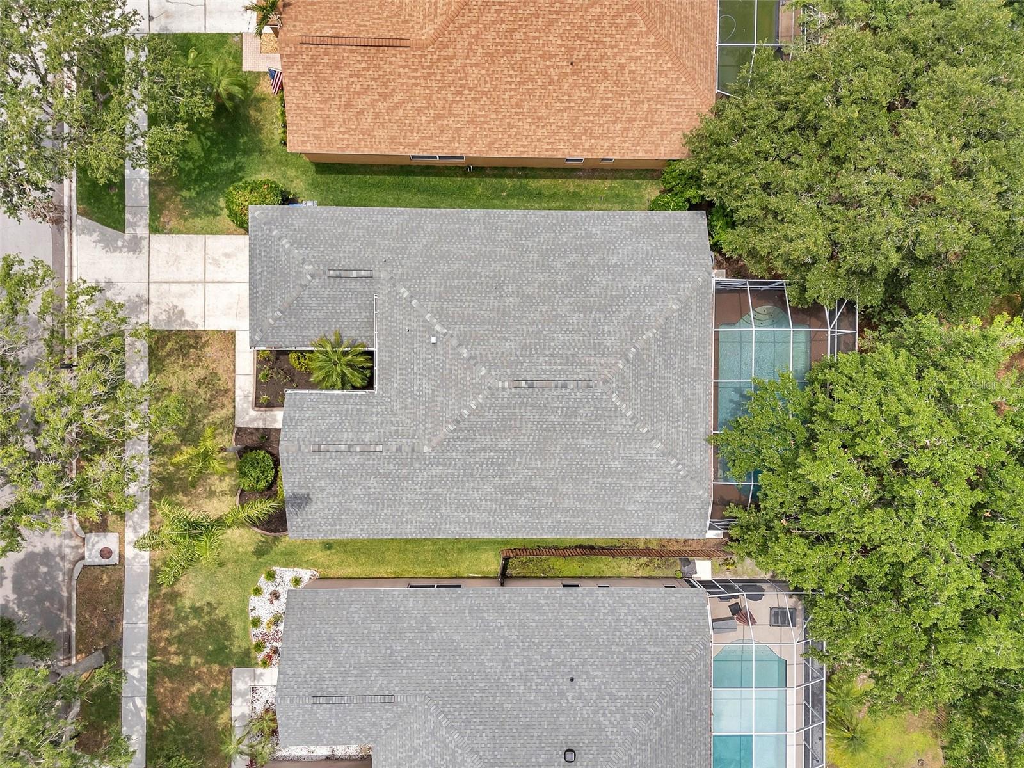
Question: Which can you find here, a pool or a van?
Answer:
pool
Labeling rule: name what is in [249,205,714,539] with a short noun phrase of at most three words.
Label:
house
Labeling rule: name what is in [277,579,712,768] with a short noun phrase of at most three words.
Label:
house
